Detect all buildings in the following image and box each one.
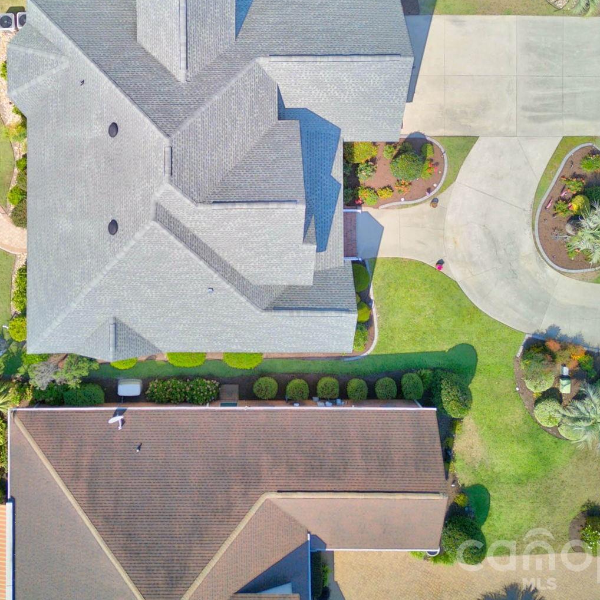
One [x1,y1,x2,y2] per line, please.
[6,0,414,363]
[7,398,448,600]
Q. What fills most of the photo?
buildings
